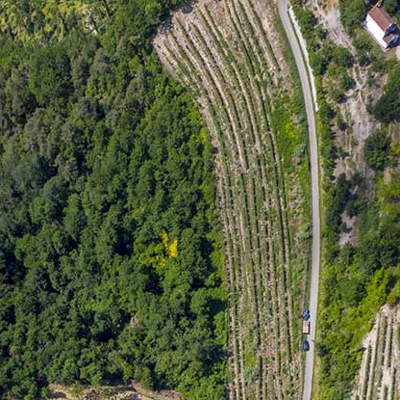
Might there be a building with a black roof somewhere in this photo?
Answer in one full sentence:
No, there isn't any building with a black roof down there.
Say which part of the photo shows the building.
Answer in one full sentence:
The building sits in the top right section of the image.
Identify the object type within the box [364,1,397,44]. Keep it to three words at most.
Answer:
building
